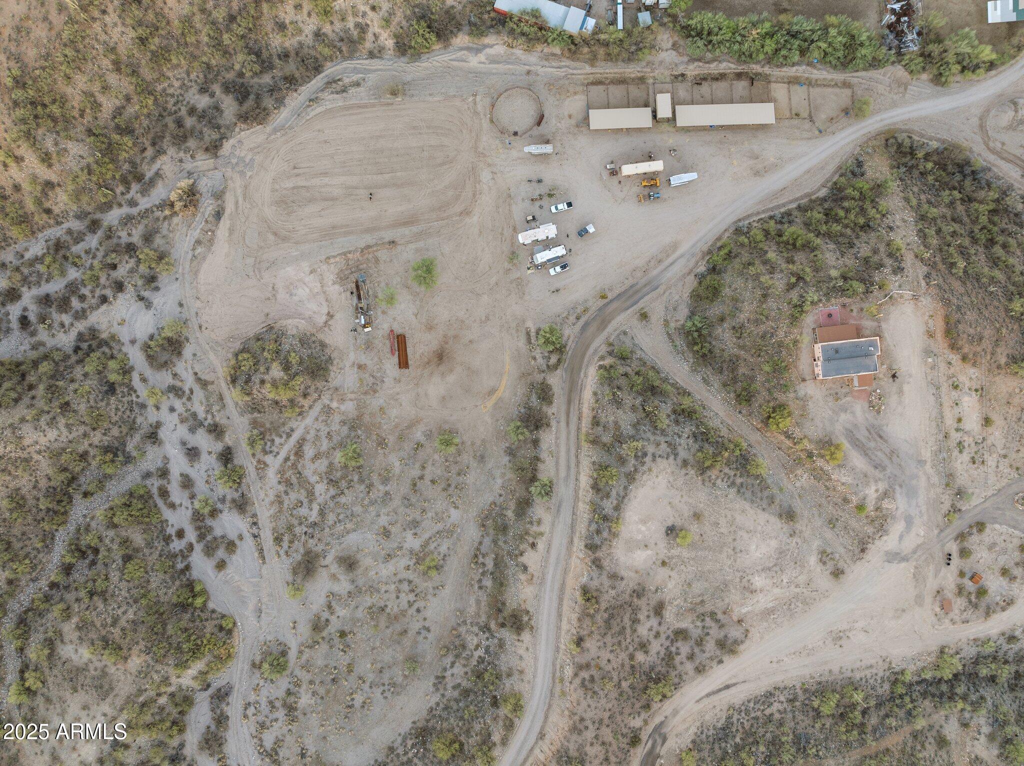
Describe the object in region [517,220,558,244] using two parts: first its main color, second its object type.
white camper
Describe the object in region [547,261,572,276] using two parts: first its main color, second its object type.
white vehicle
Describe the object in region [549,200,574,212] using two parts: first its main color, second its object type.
white vehicle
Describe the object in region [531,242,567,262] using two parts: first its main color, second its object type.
white camper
